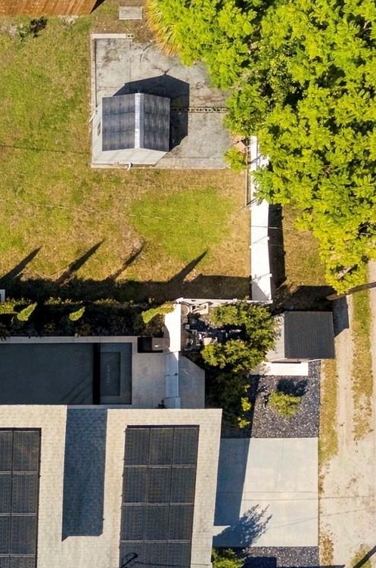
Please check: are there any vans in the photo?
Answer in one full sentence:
No, there is no van in the image.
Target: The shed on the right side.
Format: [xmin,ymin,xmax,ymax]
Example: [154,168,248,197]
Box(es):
[261,311,336,362]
